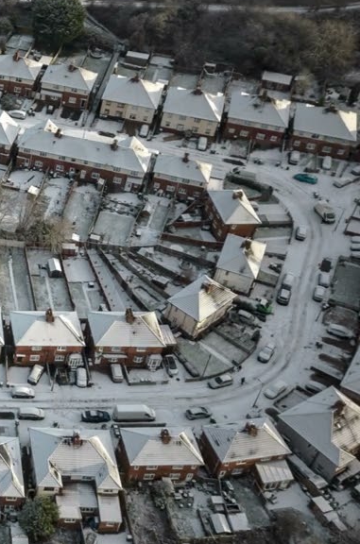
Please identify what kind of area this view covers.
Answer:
residential area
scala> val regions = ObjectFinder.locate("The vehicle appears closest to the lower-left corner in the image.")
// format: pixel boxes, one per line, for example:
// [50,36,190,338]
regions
[19,407,44,420]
